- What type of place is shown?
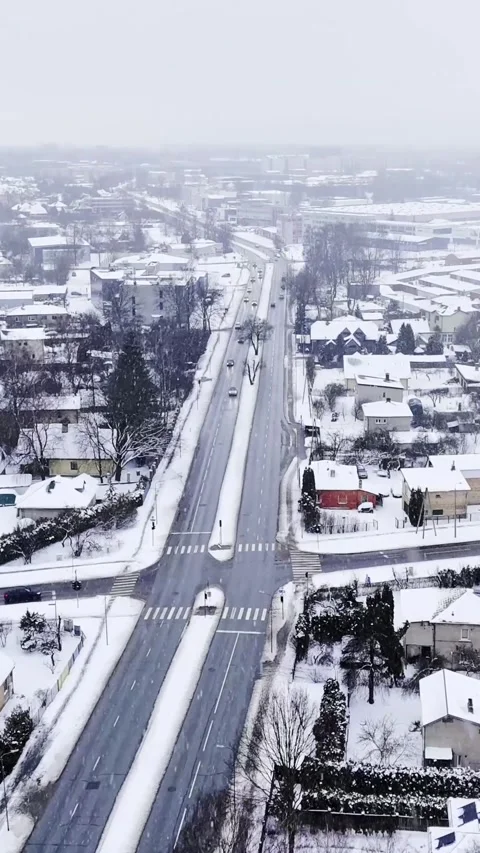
residential area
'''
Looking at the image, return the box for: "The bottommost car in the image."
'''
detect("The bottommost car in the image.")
[2,587,40,605]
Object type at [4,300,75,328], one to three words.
house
